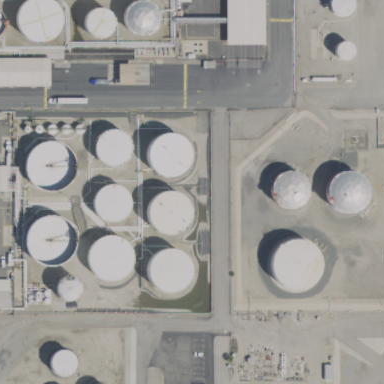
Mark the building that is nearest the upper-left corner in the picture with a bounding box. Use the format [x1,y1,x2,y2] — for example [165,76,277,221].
[0,58,51,87]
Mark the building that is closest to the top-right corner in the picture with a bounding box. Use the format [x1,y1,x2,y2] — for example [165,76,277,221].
[226,0,266,46]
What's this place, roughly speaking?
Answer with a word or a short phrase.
industrial area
